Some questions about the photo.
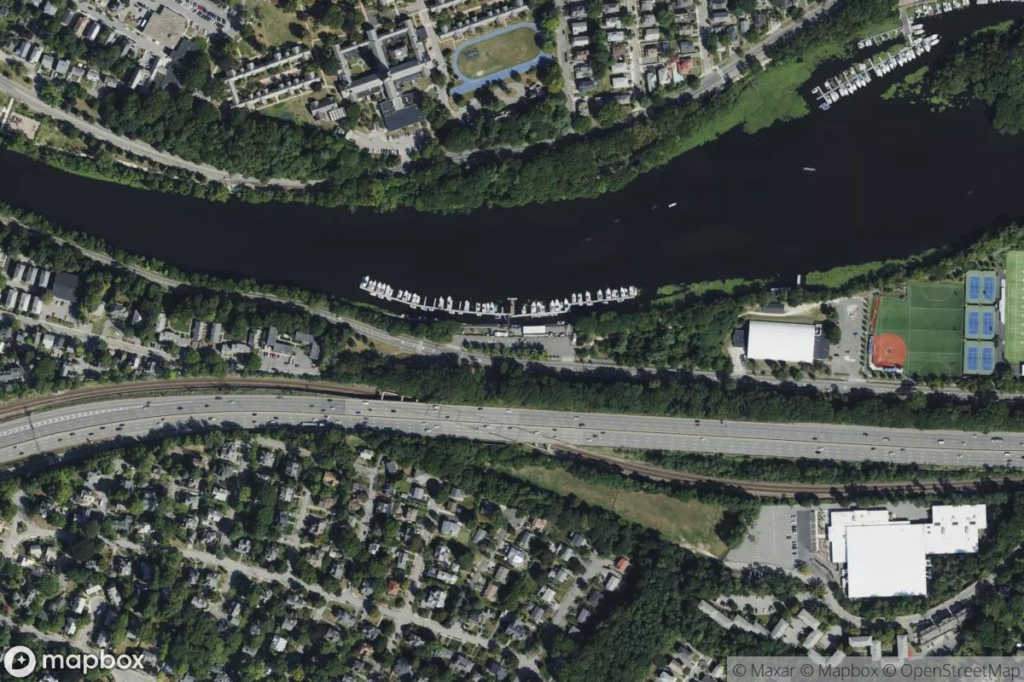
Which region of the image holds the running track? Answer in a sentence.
Look in the top portion of the view to spot the running track.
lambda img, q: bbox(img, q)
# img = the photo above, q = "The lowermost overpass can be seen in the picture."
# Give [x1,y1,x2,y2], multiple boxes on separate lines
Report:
[367,400,572,445]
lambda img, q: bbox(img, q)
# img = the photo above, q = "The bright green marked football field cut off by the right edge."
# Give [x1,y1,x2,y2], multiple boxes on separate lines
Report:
[1004,250,1024,363]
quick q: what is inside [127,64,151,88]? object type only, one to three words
building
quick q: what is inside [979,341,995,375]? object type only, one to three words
tennis court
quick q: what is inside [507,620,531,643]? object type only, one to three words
house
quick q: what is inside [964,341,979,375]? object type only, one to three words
tennis court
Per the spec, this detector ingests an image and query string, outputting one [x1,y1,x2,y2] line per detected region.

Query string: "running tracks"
[451,20,549,93]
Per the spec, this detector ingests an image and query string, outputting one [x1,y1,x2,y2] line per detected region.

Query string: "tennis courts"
[981,270,997,303]
[964,341,979,375]
[981,306,997,339]
[979,341,995,375]
[965,270,981,303]
[965,306,981,339]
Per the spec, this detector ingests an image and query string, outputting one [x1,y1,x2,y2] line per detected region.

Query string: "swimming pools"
[672,62,685,84]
